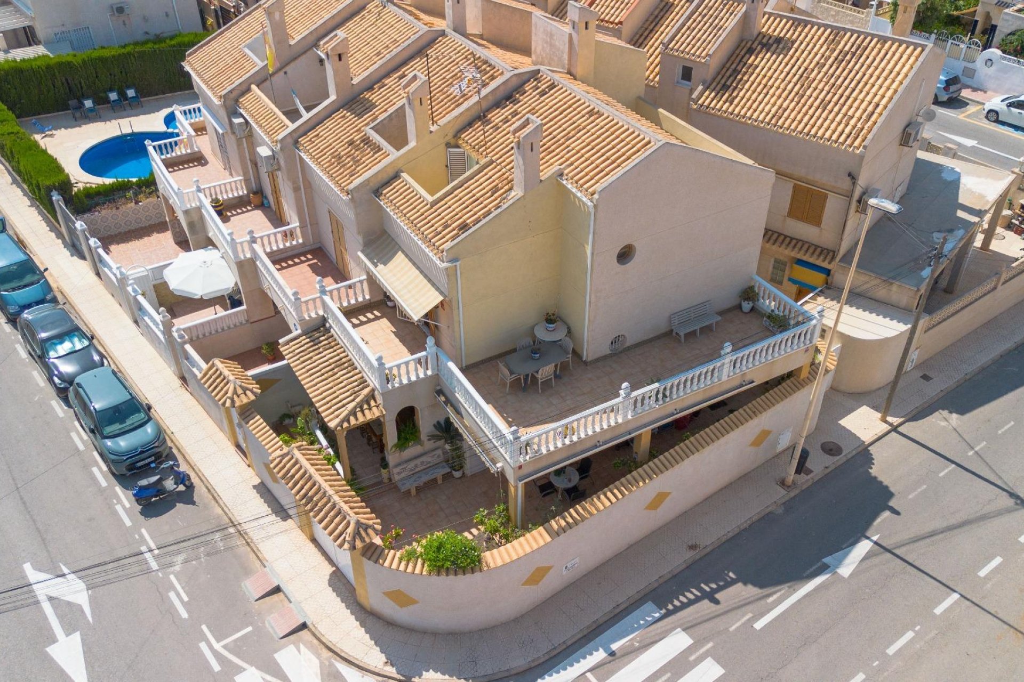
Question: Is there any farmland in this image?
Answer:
No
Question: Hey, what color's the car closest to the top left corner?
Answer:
blue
